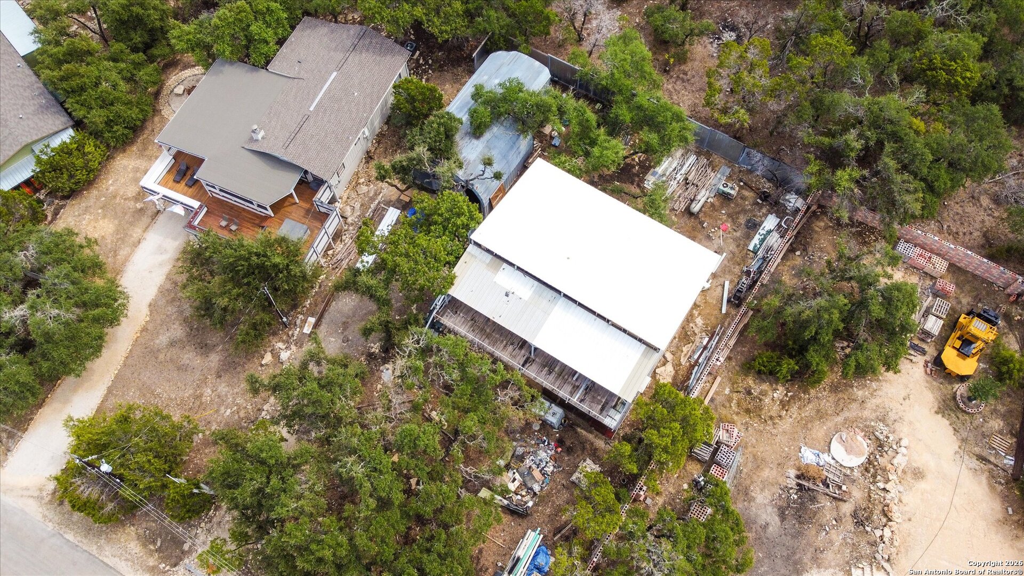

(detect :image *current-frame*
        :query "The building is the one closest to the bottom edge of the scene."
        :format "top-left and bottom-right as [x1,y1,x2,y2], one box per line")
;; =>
[431,158,726,438]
